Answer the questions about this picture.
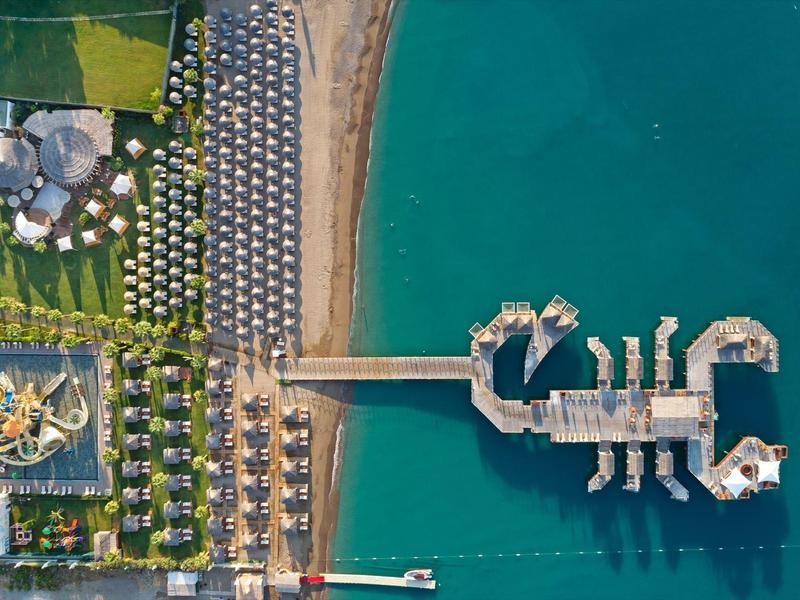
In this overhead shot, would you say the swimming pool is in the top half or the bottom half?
bottom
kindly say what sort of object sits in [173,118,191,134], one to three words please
gazebo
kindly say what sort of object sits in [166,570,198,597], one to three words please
shed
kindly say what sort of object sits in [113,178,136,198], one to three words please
tent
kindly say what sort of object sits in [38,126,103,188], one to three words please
building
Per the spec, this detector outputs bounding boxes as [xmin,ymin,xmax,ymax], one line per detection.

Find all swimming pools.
[0,343,112,495]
